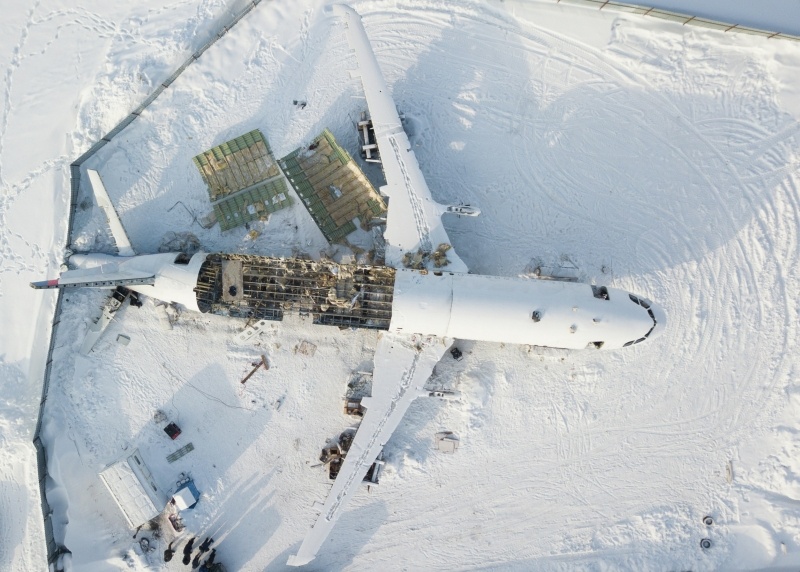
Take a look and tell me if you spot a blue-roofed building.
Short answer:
No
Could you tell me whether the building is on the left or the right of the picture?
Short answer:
left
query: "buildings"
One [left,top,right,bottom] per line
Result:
[97,450,168,531]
